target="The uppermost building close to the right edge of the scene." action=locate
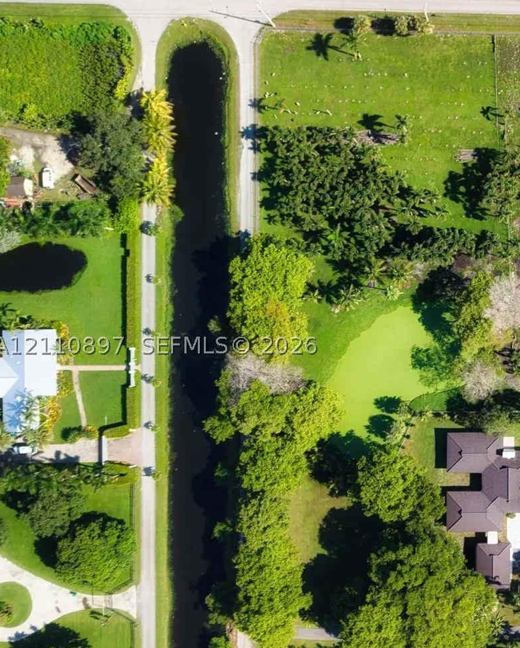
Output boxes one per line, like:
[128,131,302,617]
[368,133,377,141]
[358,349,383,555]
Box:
[446,432,520,532]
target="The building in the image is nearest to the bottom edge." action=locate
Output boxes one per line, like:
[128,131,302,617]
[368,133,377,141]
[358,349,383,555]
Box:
[476,543,511,591]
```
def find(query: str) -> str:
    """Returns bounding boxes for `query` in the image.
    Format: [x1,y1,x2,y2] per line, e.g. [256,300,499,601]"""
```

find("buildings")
[0,329,61,432]
[446,432,520,532]
[476,543,511,591]
[7,176,30,197]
